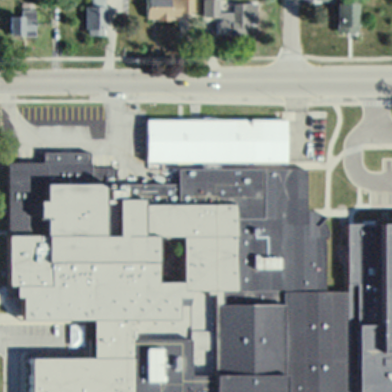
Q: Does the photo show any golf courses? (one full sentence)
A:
No, I can't see a single golf course in this photo.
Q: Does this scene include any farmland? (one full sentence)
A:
No, farmland can't be seen anywhere here.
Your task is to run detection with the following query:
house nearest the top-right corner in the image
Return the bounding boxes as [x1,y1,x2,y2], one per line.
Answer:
[337,2,362,34]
